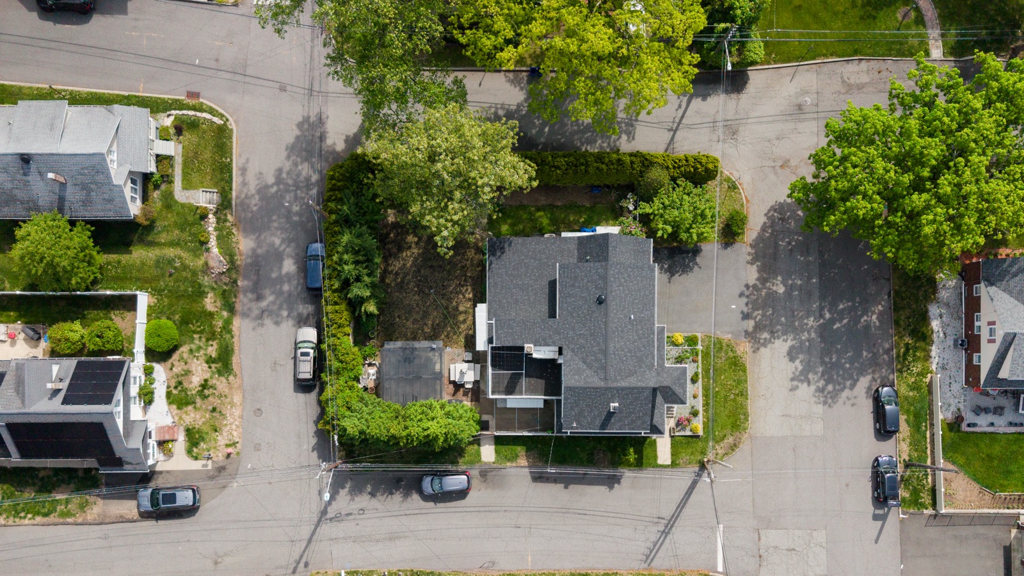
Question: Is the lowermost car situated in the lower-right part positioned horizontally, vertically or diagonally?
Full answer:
In this picture, the lowermost car situated in the lower-right part lies vertically.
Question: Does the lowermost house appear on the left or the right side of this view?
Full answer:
The lowermost house sits on the left side.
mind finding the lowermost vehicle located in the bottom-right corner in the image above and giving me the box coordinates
[874,455,904,516]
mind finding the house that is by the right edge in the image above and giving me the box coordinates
[965,259,1024,390]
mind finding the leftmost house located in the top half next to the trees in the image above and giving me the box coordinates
[0,100,174,220]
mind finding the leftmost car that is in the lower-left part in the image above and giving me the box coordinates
[138,487,200,516]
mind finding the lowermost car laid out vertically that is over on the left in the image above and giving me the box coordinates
[293,328,320,385]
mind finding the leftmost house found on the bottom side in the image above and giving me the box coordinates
[0,358,163,473]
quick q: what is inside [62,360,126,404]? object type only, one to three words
solar panel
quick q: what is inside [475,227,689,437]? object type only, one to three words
house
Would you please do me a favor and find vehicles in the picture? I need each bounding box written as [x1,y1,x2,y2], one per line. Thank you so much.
[138,487,200,516]
[421,470,473,497]
[293,328,320,385]
[874,455,904,516]
[33,0,91,13]
[874,385,903,437]
[301,242,326,293]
